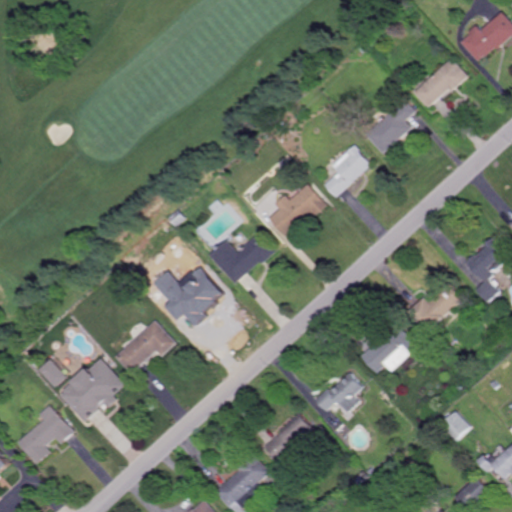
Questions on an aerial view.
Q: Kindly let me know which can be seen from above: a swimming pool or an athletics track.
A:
swimming pool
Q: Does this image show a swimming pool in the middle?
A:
Yes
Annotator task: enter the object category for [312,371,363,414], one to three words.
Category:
house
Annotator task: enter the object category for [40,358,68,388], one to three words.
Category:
building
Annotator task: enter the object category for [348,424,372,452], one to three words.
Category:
swimming pool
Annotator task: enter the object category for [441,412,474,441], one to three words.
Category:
barn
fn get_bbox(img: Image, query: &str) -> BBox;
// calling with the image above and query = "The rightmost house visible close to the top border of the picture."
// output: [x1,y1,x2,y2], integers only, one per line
[458,12,512,62]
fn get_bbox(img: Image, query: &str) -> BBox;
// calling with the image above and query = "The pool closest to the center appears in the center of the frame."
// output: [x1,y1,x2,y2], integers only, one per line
[196,200,244,248]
